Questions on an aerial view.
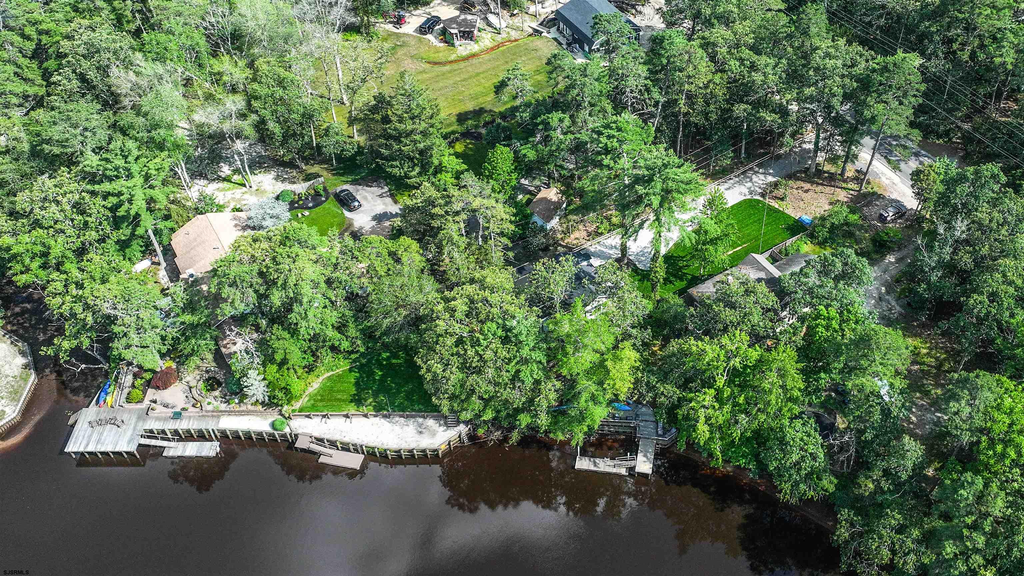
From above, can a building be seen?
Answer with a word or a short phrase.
Yes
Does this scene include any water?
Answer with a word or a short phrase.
Yes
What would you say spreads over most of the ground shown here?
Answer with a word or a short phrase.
trees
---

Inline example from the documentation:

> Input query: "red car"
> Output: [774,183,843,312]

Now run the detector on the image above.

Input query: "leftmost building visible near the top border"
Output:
[442,13,479,44]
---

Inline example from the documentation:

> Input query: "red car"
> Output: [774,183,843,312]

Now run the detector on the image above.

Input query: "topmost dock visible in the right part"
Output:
[636,409,678,449]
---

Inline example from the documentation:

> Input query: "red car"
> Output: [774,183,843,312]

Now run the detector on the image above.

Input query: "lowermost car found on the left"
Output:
[340,190,359,213]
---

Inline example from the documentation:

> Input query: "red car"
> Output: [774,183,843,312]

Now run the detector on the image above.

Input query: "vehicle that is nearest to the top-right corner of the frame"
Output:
[880,204,908,223]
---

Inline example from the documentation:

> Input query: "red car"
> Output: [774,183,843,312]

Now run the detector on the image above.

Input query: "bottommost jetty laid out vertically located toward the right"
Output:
[634,438,656,482]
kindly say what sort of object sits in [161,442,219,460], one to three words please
pier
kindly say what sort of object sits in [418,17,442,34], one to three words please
car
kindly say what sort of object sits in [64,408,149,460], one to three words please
pier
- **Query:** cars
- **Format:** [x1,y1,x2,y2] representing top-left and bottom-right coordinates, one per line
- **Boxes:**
[418,17,442,34]
[880,204,908,223]
[340,190,359,213]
